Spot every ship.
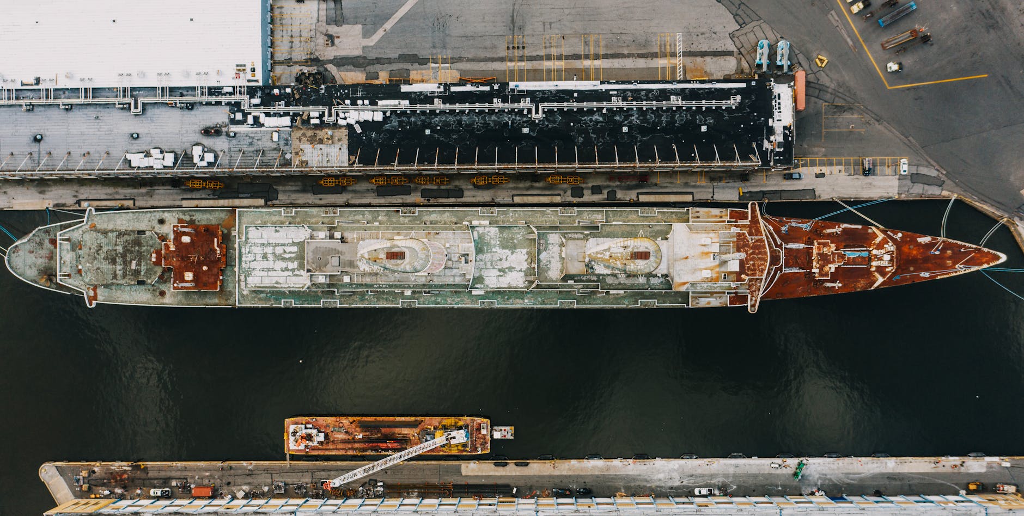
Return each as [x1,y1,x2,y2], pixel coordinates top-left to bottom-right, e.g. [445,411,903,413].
[5,201,1007,314]
[284,414,490,454]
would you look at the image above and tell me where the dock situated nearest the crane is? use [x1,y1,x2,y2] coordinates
[38,454,1024,507]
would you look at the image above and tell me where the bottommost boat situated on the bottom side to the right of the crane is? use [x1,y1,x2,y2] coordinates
[492,426,514,439]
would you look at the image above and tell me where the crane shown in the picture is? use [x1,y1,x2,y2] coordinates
[323,418,476,490]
